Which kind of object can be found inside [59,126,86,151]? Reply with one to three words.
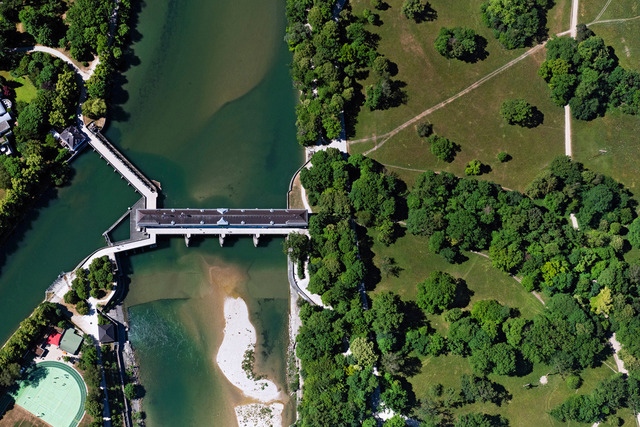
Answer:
house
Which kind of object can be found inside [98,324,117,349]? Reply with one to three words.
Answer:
building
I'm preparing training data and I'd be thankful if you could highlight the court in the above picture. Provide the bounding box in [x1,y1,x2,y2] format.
[4,359,86,427]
